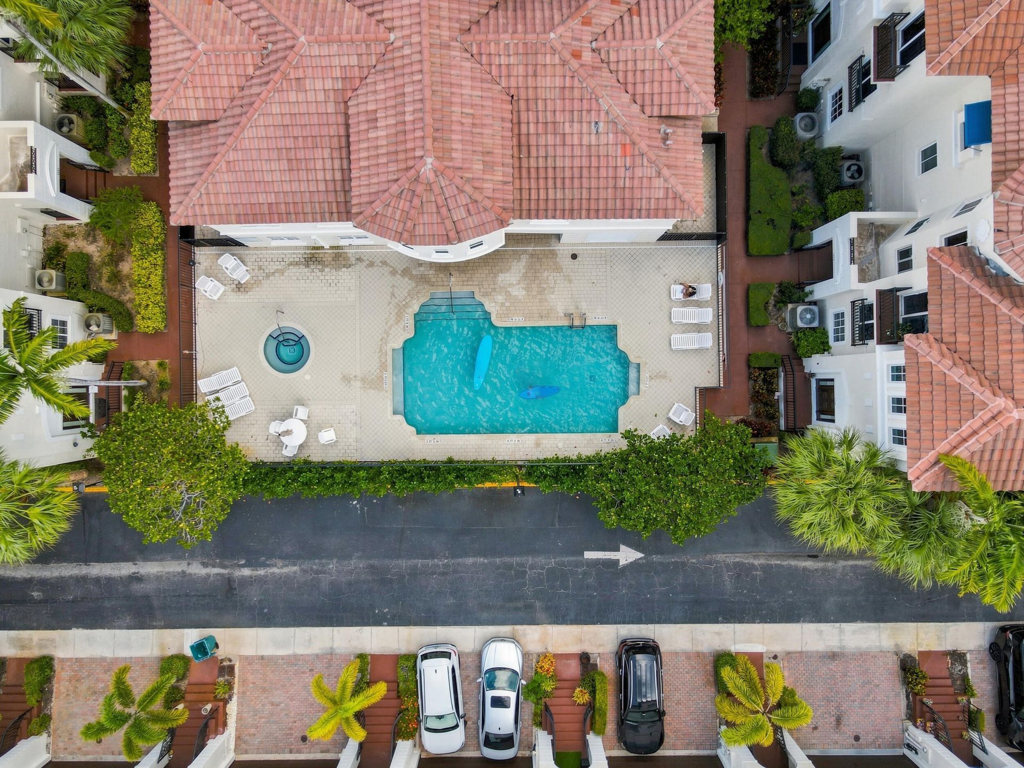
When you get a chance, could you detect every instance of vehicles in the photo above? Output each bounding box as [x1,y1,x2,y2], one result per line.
[475,638,528,754]
[413,641,467,751]
[990,630,1024,742]
[614,638,668,750]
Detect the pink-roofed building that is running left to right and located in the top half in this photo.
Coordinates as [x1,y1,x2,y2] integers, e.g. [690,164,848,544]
[147,0,718,264]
